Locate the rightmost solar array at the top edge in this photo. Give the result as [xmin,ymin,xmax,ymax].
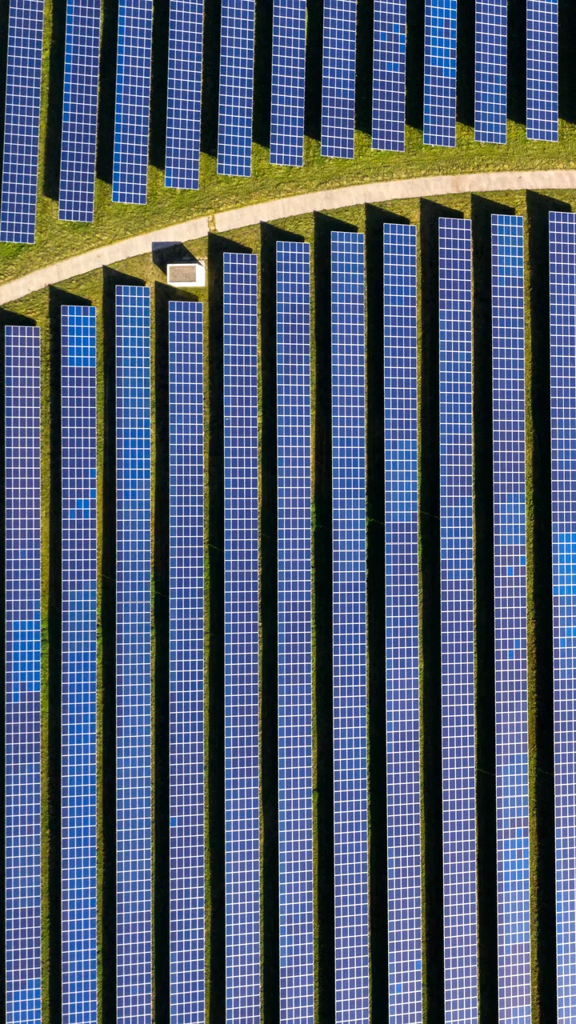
[526,0,557,143]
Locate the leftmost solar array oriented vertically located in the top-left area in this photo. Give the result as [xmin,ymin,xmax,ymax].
[0,0,45,245]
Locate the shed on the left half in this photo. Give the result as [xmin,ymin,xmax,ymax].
[167,262,201,286]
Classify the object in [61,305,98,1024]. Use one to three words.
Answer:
solar array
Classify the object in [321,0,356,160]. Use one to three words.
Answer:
solar array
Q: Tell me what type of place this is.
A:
solar farm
